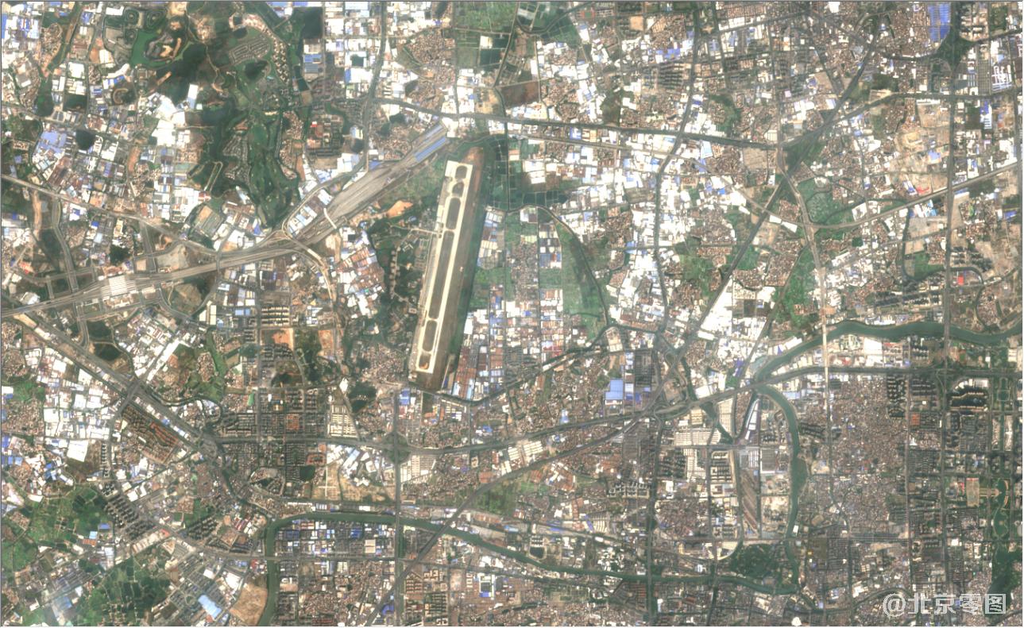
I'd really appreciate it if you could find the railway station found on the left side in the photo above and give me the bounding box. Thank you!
[99,266,156,306]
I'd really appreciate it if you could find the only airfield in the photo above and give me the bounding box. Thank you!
[409,147,483,387]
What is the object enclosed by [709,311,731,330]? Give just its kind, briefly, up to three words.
shed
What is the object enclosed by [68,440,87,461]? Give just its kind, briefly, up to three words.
shed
